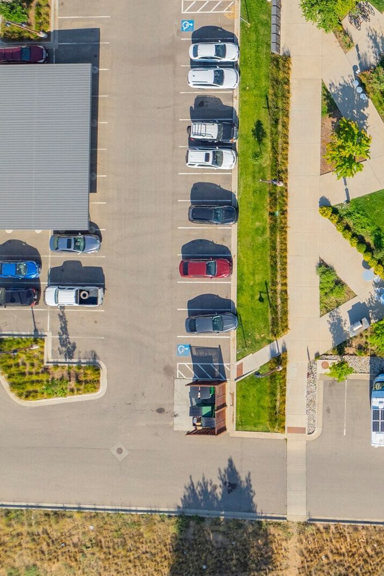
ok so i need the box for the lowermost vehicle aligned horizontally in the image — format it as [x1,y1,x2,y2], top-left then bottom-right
[186,311,239,335]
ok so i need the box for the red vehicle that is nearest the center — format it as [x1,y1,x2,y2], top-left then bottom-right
[179,256,234,280]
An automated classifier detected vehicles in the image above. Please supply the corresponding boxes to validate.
[179,256,234,280]
[188,203,239,225]
[190,40,240,64]
[0,43,50,63]
[0,259,45,280]
[50,232,104,255]
[45,284,107,309]
[0,285,43,308]
[186,65,240,90]
[186,311,239,335]
[184,146,238,169]
[187,119,239,144]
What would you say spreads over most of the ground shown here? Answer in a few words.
paved ground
